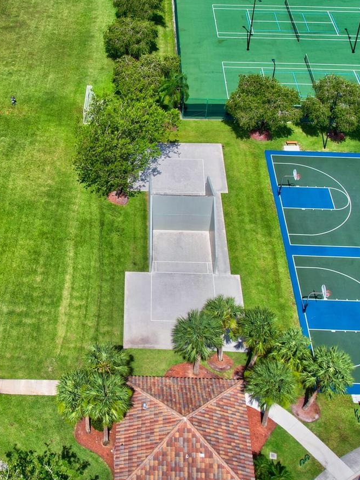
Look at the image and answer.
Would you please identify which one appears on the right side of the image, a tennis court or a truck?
tennis court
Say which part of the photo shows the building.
bottom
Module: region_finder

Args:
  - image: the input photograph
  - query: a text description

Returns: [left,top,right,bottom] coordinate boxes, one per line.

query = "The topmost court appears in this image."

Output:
[176,0,360,52]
